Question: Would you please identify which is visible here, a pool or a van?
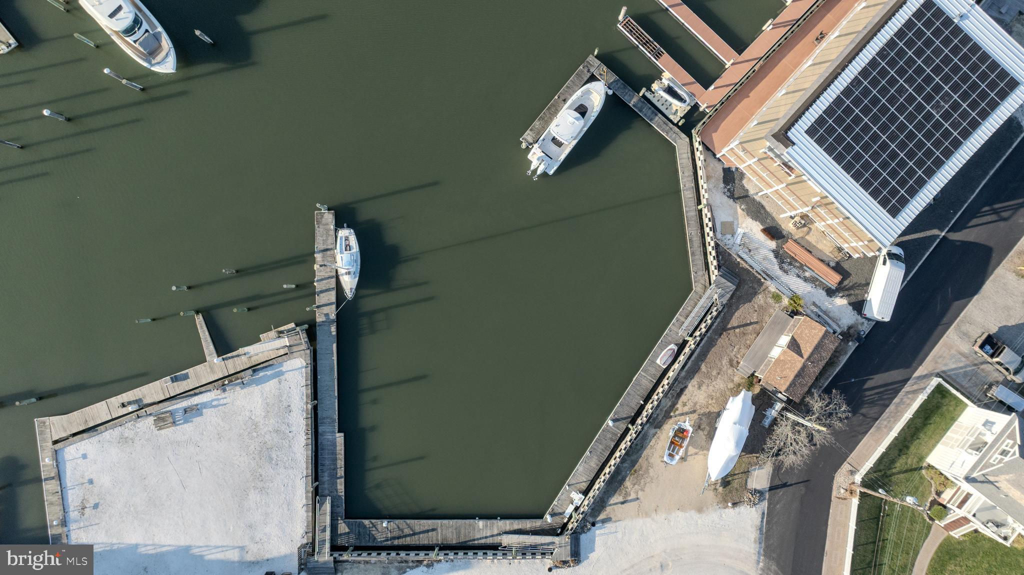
van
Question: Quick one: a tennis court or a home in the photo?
home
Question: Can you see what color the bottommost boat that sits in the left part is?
white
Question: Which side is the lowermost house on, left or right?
right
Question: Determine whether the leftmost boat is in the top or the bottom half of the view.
top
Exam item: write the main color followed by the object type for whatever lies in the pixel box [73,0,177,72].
white boat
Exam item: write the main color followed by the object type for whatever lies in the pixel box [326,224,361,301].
white boat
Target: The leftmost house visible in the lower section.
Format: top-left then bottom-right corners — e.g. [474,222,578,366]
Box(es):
[736,310,841,403]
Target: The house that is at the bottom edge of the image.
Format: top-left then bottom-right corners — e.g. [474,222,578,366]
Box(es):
[922,405,1024,555]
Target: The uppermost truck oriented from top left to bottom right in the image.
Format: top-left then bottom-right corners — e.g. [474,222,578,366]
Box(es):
[976,332,1024,387]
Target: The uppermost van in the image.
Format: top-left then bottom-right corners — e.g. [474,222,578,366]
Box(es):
[858,245,907,321]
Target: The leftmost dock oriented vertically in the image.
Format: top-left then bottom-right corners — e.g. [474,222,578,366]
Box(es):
[37,418,68,575]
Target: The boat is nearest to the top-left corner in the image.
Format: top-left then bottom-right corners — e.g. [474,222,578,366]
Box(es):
[0,19,22,58]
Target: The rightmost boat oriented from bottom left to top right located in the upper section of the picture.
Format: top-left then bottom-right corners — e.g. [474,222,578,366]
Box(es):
[526,80,605,182]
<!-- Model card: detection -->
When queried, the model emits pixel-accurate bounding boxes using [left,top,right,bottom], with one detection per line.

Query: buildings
[922,405,1024,555]
[736,310,841,403]
[715,0,1024,259]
